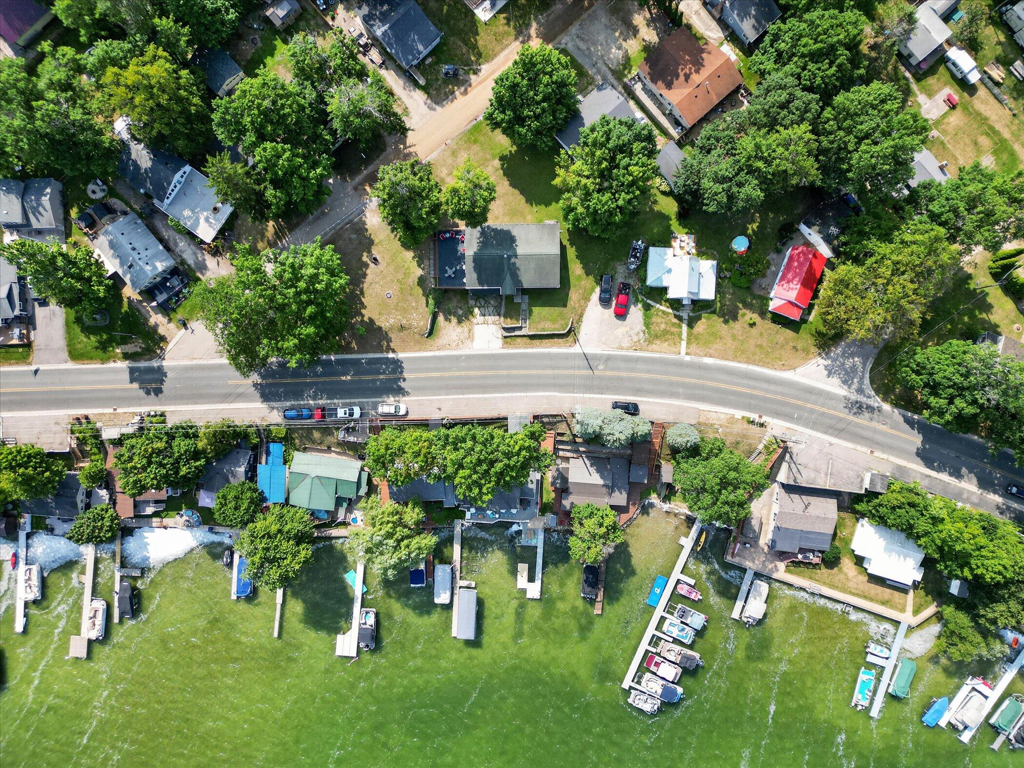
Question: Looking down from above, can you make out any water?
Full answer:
Yes, there's water in this view.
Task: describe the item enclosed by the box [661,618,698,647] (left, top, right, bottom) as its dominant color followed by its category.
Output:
white boat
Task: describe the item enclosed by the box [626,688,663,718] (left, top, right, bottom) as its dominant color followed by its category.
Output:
white boat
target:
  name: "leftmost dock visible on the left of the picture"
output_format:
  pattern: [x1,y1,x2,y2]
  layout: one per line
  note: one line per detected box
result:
[15,530,30,633]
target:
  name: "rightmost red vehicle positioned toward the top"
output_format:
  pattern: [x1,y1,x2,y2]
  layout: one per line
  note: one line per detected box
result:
[614,281,631,316]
